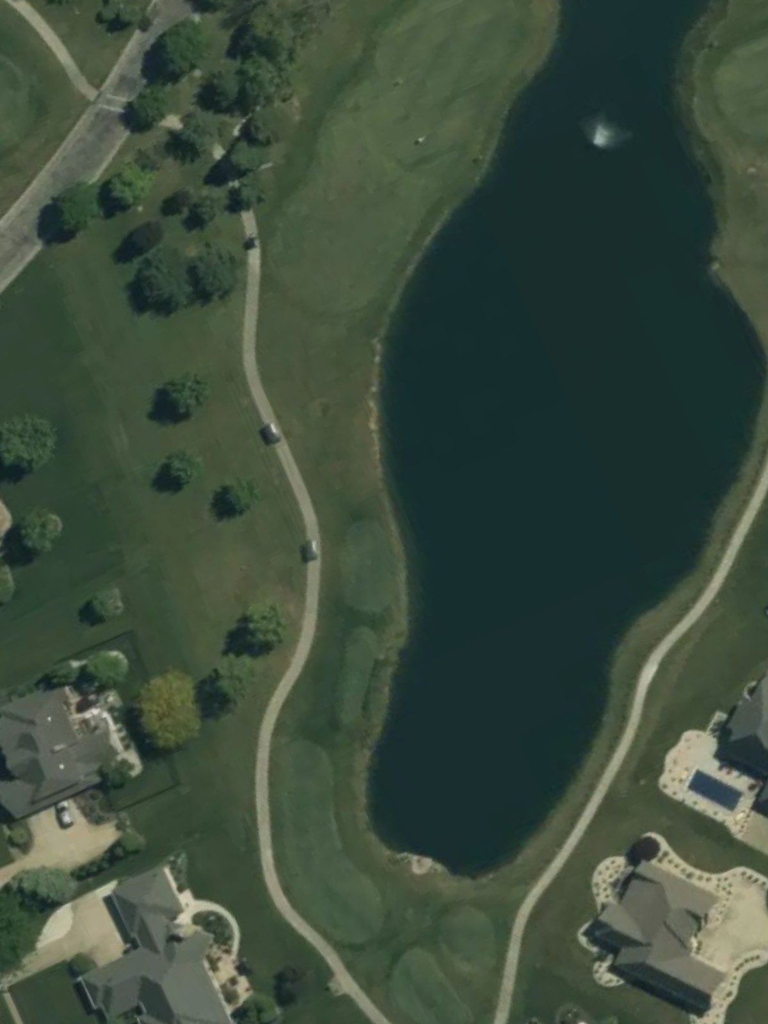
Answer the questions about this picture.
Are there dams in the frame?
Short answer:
No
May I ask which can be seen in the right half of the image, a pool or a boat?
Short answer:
pool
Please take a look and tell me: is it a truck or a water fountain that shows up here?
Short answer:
water fountain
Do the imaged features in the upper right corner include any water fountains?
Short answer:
Yes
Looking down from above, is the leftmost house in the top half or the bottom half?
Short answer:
bottom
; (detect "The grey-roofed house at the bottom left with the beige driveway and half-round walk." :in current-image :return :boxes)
[75,868,239,1024]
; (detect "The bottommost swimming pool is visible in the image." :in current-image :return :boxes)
[686,767,744,813]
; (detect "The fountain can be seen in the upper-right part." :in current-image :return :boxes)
[588,123,623,156]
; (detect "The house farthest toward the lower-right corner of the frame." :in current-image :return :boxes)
[595,858,733,1018]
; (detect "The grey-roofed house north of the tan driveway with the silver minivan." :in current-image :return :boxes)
[0,685,127,817]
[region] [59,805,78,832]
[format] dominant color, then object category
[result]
gray car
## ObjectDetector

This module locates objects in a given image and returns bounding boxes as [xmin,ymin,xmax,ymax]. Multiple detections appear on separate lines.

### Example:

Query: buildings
[75,868,239,1024]
[723,683,768,802]
[0,685,127,817]
[595,858,733,1018]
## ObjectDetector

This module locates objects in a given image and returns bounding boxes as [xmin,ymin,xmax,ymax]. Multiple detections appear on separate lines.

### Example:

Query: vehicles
[246,233,259,250]
[59,805,78,832]
[304,540,319,558]
[265,423,281,440]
